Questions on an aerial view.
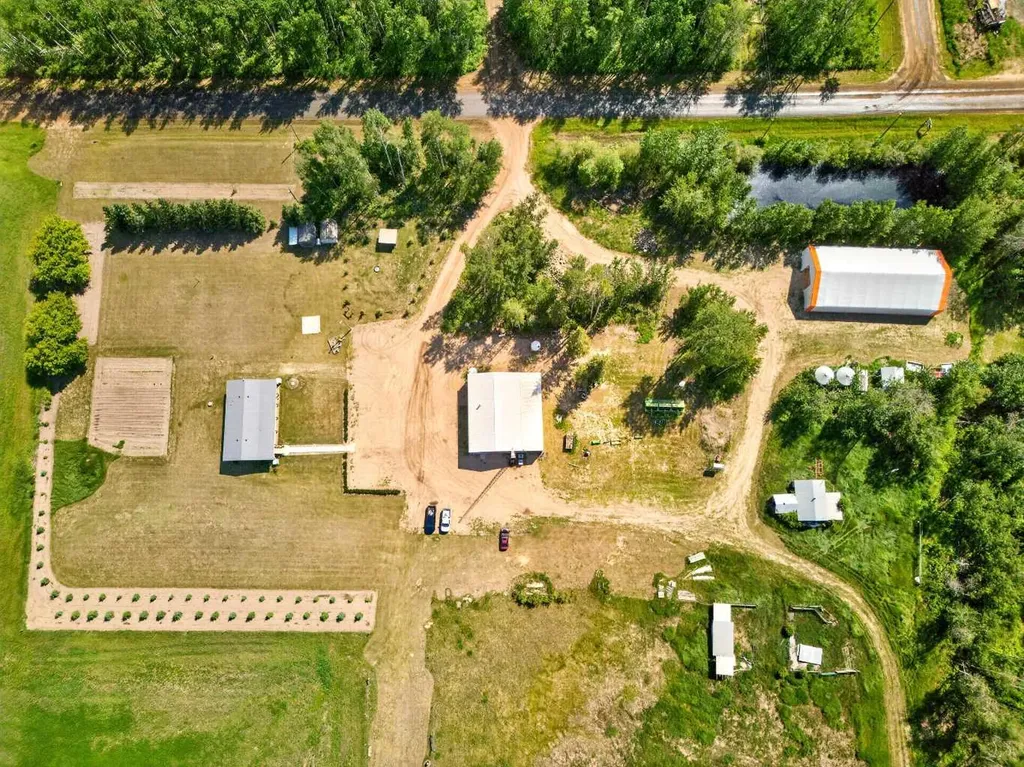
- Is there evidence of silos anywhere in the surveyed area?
Yes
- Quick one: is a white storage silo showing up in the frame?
Yes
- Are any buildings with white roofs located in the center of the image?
Yes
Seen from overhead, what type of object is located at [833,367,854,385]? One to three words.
silo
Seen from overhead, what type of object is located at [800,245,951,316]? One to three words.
barn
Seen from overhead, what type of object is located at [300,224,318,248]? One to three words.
shed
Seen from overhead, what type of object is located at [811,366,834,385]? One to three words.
silo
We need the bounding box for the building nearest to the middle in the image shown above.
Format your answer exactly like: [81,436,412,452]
[468,374,543,452]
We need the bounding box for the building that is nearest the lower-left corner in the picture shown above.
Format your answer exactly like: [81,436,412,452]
[223,380,280,463]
